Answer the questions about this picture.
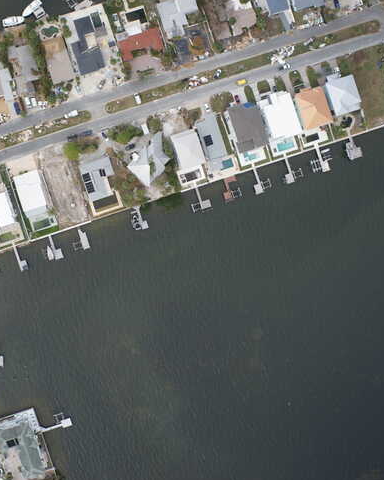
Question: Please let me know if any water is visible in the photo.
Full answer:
Yes, there is water in the image.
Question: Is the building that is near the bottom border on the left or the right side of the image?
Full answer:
You can find the building that is near the bottom border on the left side of the picture.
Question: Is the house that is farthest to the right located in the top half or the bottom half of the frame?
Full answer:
The top half of the photo is where the house that is farthest to the right is.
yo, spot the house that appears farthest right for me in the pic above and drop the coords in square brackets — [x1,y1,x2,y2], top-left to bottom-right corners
[325,73,361,117]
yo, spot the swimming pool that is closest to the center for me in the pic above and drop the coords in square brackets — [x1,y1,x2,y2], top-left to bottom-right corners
[182,167,203,183]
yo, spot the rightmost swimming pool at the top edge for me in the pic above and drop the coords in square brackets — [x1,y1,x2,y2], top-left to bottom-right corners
[125,7,147,25]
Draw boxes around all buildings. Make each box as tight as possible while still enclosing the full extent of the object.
[257,91,303,141]
[293,88,333,130]
[158,0,198,39]
[9,46,39,82]
[0,69,14,102]
[216,0,256,39]
[116,20,164,62]
[43,38,71,84]
[290,0,325,12]
[72,16,105,75]
[80,158,114,201]
[197,115,226,159]
[0,192,17,229]
[264,0,289,17]
[14,171,47,213]
[325,73,361,117]
[171,129,205,171]
[0,424,45,478]
[227,103,269,153]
